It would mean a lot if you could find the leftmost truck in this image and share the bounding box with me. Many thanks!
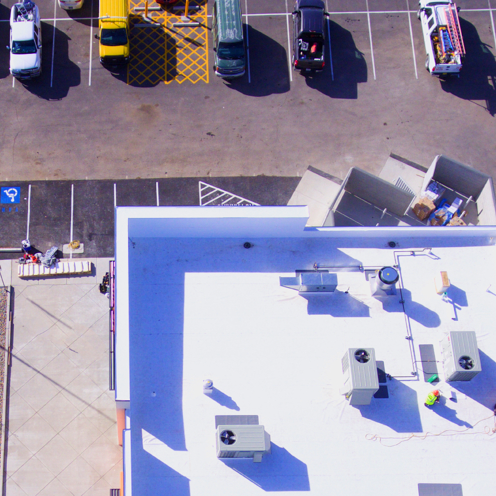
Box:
[5,2,43,77]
